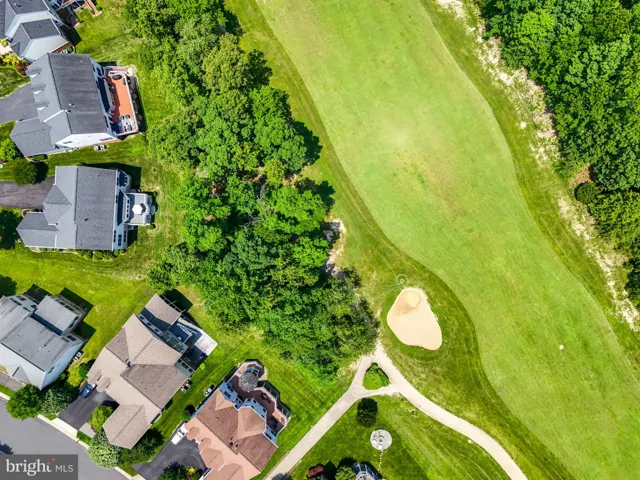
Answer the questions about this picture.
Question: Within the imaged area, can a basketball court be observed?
No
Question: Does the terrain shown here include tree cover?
Yes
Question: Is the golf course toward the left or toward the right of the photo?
right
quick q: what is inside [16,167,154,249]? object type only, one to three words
house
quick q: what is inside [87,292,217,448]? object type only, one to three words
house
